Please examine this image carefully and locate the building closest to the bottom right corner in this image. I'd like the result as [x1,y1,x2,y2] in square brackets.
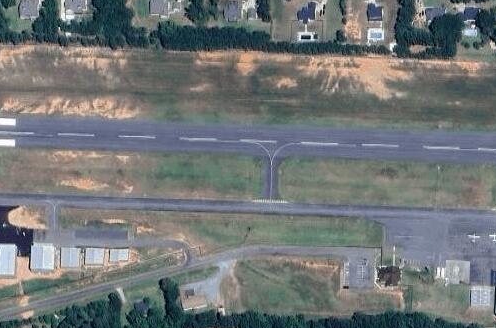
[471,287,490,307]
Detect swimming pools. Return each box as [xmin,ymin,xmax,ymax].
[299,32,318,41]
[463,28,476,36]
[368,28,383,41]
